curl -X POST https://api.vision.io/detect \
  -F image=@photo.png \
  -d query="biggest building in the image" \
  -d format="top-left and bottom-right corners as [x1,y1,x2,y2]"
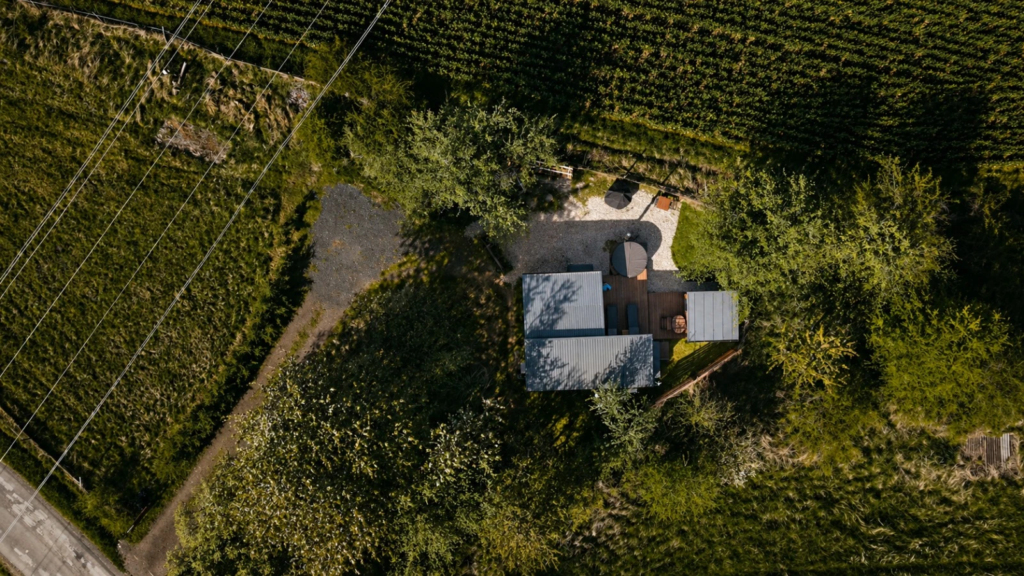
[519,270,662,394]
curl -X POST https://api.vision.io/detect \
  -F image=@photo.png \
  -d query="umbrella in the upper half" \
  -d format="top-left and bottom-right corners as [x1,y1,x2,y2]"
[603,179,634,210]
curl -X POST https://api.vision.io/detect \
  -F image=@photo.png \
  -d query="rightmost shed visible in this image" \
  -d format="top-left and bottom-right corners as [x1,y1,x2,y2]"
[677,291,739,343]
